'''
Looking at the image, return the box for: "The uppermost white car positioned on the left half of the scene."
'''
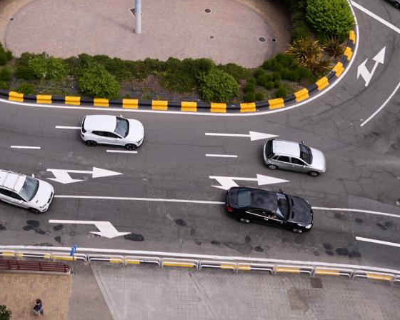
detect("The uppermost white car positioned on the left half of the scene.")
[79,119,145,154]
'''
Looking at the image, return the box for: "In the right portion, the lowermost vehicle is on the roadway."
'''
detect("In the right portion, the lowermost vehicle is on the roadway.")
[225,188,314,237]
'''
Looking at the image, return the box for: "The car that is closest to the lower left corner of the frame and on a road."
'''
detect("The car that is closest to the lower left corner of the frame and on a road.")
[0,172,58,219]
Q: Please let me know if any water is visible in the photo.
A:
No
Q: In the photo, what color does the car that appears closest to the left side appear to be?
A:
white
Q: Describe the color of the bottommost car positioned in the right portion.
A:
black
